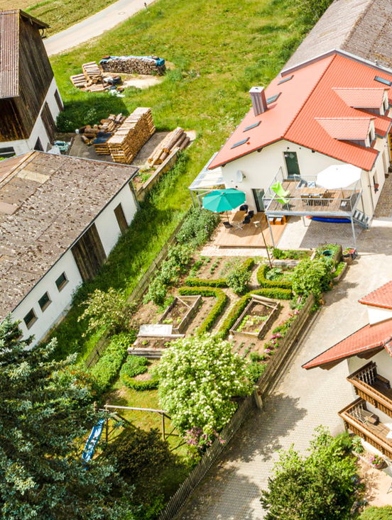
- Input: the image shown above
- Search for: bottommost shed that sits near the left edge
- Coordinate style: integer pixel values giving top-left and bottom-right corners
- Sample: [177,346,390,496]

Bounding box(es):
[0,147,141,381]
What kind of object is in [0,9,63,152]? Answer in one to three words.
barn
